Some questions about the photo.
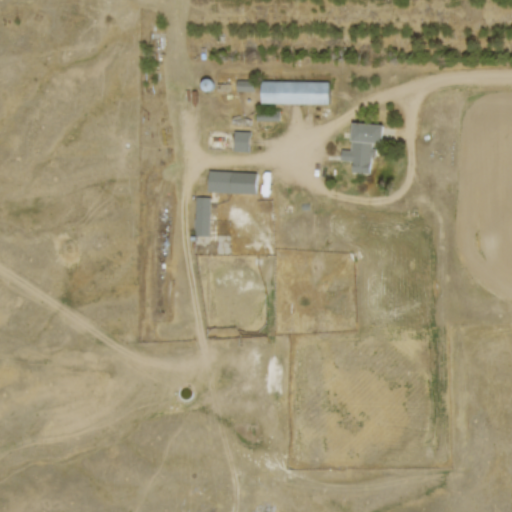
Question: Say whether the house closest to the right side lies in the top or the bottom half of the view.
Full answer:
The house closest to the right side sits in the top half of the picture.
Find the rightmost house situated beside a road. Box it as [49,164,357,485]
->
[341,124,384,173]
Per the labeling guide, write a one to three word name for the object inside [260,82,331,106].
barn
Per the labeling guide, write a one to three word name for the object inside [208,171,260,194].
building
